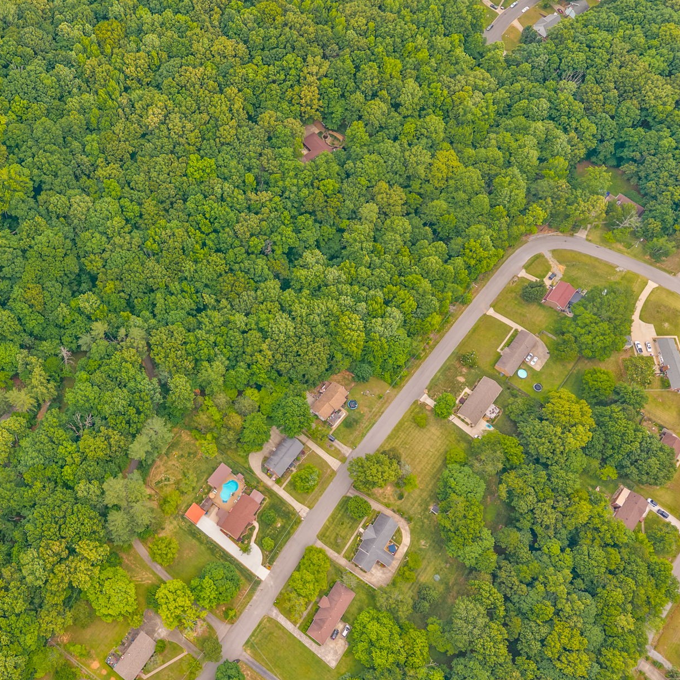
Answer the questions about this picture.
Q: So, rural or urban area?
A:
rural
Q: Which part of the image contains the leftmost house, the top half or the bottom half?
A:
bottom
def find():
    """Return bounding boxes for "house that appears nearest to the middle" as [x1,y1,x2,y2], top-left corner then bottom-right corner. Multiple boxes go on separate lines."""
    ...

[310,383,349,420]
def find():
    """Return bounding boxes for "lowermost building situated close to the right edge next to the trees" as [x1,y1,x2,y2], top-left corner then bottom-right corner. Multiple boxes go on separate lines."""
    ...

[612,487,649,527]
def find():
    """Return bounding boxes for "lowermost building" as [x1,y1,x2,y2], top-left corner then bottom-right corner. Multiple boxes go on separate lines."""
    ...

[113,630,156,680]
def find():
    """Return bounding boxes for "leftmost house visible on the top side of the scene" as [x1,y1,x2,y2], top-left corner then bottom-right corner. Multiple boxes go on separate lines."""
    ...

[301,133,332,164]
